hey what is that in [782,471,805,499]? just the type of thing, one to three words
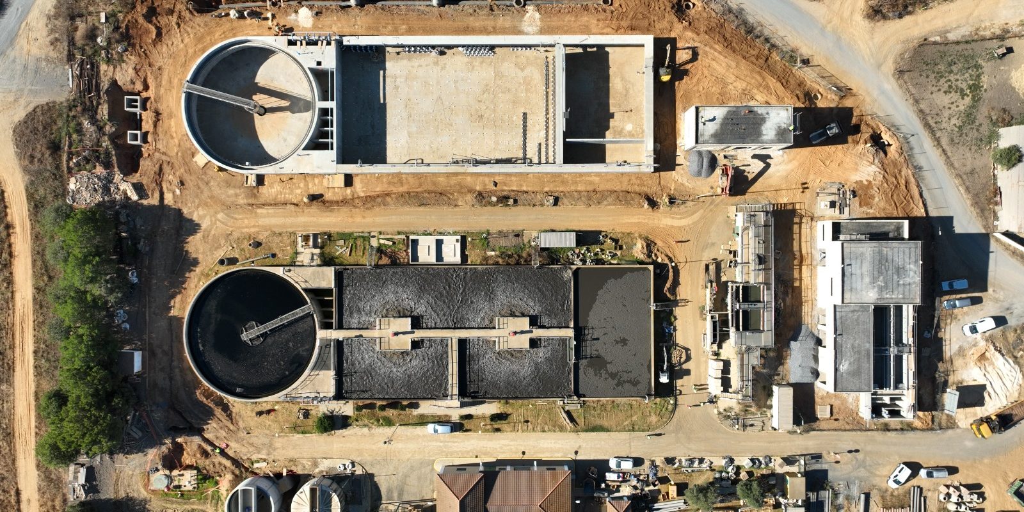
shed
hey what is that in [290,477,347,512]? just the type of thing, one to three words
storage tank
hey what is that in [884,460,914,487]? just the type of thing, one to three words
vehicle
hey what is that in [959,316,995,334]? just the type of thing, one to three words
car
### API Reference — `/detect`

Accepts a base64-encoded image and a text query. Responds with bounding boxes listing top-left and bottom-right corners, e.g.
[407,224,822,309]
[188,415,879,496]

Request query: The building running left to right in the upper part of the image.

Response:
[685,106,799,152]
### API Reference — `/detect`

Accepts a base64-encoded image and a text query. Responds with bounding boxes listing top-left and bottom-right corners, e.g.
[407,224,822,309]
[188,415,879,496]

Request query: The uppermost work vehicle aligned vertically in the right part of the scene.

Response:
[657,47,672,82]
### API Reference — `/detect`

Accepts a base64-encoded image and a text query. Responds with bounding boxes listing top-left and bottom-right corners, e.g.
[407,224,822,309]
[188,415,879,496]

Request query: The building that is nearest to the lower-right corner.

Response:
[935,386,959,411]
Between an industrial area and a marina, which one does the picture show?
industrial area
